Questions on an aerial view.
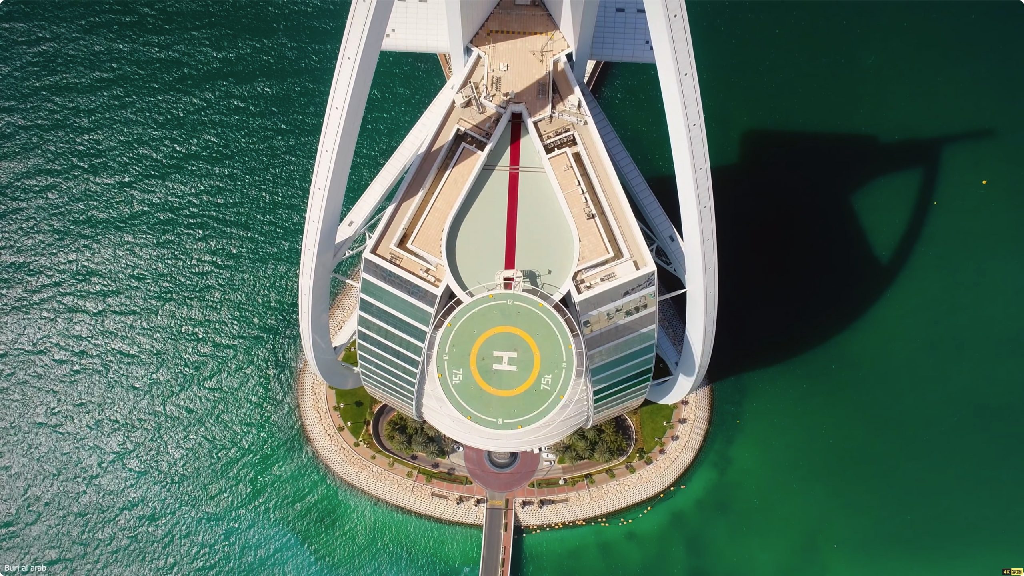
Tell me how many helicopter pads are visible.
1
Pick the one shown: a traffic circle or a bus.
traffic circle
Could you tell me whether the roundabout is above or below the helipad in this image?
below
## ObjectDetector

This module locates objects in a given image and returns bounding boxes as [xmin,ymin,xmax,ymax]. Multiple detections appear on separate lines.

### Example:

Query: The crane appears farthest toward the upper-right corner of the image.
[550,95,587,126]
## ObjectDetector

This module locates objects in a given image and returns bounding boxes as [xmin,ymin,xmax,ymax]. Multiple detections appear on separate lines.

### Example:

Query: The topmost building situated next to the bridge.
[299,0,718,453]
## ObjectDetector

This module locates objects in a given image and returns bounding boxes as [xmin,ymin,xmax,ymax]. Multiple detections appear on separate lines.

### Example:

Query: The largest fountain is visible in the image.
[483,450,521,473]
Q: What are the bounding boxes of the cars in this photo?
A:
[455,444,465,453]
[543,460,555,466]
[542,453,555,458]
[540,445,552,451]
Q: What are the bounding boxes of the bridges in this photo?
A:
[480,493,514,576]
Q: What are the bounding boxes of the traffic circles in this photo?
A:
[463,444,553,493]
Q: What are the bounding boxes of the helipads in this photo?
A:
[424,267,586,443]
